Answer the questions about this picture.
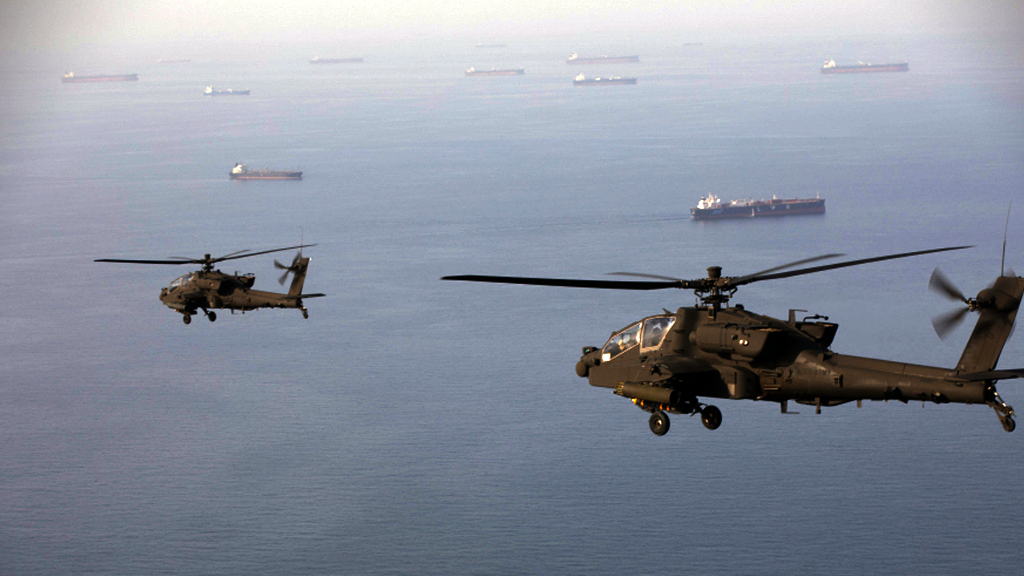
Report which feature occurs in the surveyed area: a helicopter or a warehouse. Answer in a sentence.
This aerial view contains a helicopter.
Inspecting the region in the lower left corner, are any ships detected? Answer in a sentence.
No, I can find no ship in the lower left corner.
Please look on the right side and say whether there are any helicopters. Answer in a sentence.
Yes, you'll find a helicopter on the right side.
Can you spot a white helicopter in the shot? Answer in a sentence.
No, the frame has no white helicopter in it.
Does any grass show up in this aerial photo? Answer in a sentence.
No, the scene doesn't show any grass.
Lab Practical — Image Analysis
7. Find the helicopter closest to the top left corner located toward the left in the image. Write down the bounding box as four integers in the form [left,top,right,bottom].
[94,245,327,324]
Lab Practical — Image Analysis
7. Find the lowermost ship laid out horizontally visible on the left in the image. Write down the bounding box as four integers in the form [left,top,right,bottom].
[230,163,301,179]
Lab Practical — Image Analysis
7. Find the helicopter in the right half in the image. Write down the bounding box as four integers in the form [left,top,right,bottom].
[436,202,1024,438]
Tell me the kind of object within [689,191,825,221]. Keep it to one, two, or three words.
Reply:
ship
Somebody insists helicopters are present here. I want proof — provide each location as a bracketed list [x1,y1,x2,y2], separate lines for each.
[436,202,1024,438]
[94,245,327,324]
